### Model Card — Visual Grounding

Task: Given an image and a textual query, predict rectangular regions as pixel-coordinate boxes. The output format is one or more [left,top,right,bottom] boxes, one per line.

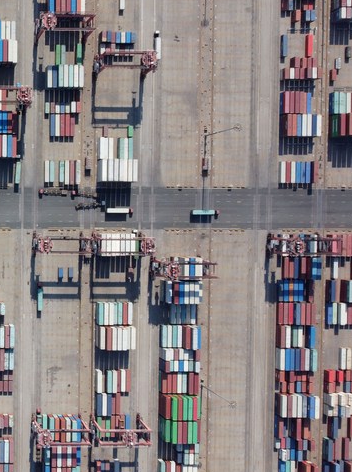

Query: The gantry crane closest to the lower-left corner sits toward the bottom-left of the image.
[33,413,91,447]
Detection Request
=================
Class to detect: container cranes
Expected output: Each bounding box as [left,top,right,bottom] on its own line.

[0,84,32,114]
[153,256,218,280]
[30,233,89,258]
[92,233,157,258]
[91,413,152,447]
[270,233,342,258]
[33,413,91,447]
[95,49,158,81]
[37,11,96,46]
